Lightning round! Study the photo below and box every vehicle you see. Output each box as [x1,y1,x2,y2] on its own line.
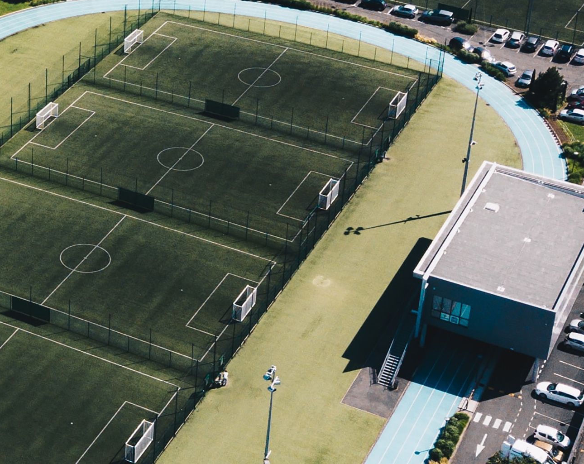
[516,68,538,87]
[555,45,575,62]
[540,42,558,57]
[495,428,559,464]
[570,88,584,100]
[447,37,476,53]
[568,100,584,111]
[506,32,526,49]
[573,51,584,66]
[422,10,454,26]
[526,418,575,452]
[360,0,388,12]
[558,109,584,126]
[491,29,509,44]
[216,372,229,388]
[535,432,567,463]
[562,332,584,350]
[534,384,584,411]
[392,5,420,19]
[523,37,542,53]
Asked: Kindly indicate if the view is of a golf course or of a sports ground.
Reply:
sports ground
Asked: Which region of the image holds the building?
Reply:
right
